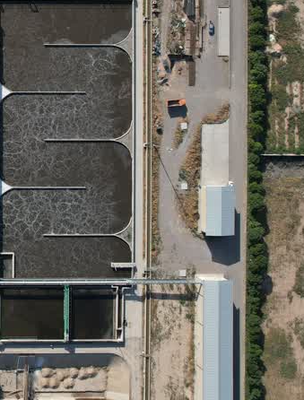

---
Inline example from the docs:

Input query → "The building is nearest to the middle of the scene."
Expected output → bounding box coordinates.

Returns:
[194,183,236,238]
